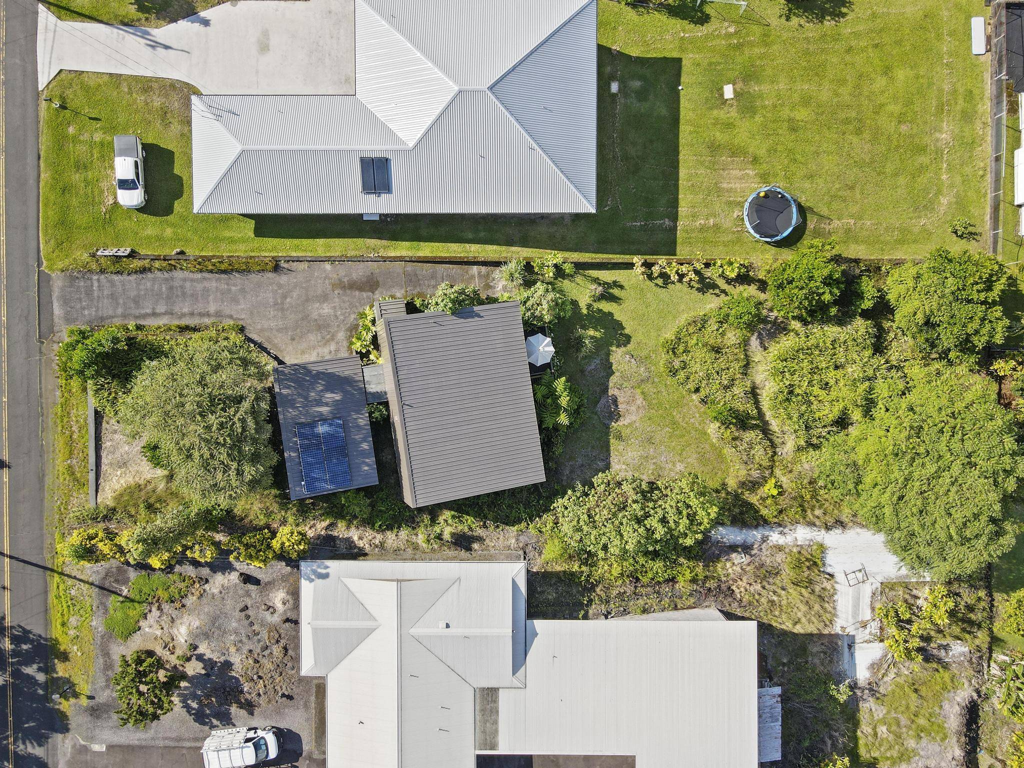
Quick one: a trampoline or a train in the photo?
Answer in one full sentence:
This aerial view contains a trampoline.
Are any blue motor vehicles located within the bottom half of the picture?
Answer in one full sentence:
No, there's no blue motor vehicle to be seen within the bottom half of the picture.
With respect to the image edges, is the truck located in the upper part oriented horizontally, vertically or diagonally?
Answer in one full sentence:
I'd say the truck located in the upper part is aligned vertically in the picture.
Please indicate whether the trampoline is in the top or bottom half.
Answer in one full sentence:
Seen from above, the trampoline lies in the top half of the view.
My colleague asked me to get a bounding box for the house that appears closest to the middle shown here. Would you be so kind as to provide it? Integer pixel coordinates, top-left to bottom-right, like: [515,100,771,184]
[374,298,545,508]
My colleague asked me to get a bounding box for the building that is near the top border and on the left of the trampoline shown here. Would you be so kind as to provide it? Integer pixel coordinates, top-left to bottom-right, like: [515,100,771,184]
[191,0,598,216]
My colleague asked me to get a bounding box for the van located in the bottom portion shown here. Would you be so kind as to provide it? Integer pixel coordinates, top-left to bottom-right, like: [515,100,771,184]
[201,726,280,768]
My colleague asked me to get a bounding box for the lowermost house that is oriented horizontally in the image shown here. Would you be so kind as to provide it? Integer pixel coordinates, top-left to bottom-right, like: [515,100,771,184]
[299,560,760,768]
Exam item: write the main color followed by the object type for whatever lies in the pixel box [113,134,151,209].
white truck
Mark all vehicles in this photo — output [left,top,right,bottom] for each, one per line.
[201,726,280,768]
[113,134,151,209]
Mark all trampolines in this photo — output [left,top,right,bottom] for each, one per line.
[743,179,808,242]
